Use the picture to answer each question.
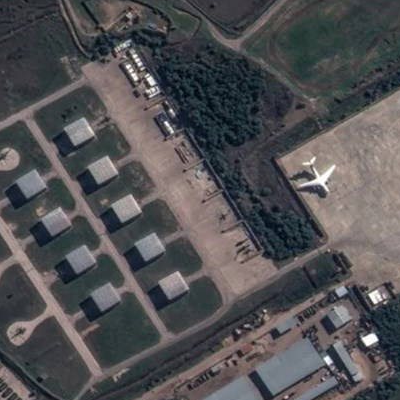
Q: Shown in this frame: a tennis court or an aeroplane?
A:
aeroplane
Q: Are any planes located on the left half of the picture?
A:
No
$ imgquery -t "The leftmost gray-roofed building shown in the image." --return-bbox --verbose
[17,170,47,199]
